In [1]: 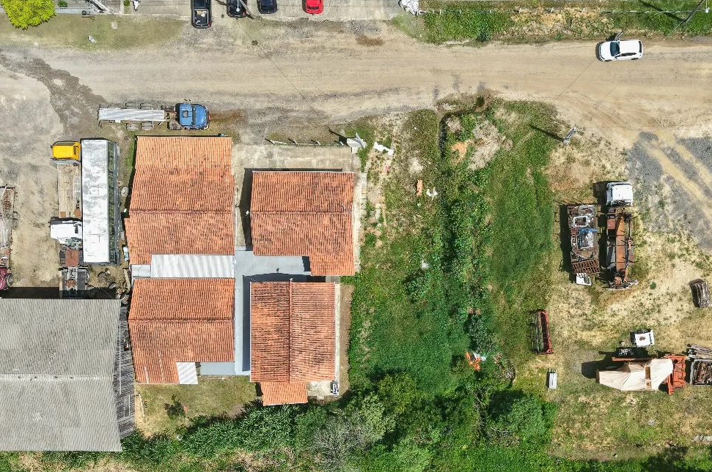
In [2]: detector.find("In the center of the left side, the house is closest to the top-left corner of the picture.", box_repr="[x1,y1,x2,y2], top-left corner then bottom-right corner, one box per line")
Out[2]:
[126,136,243,266]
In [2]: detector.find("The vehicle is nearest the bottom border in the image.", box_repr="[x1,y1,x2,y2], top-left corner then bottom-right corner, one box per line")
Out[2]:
[598,351,686,394]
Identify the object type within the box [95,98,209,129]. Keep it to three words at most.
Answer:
truck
